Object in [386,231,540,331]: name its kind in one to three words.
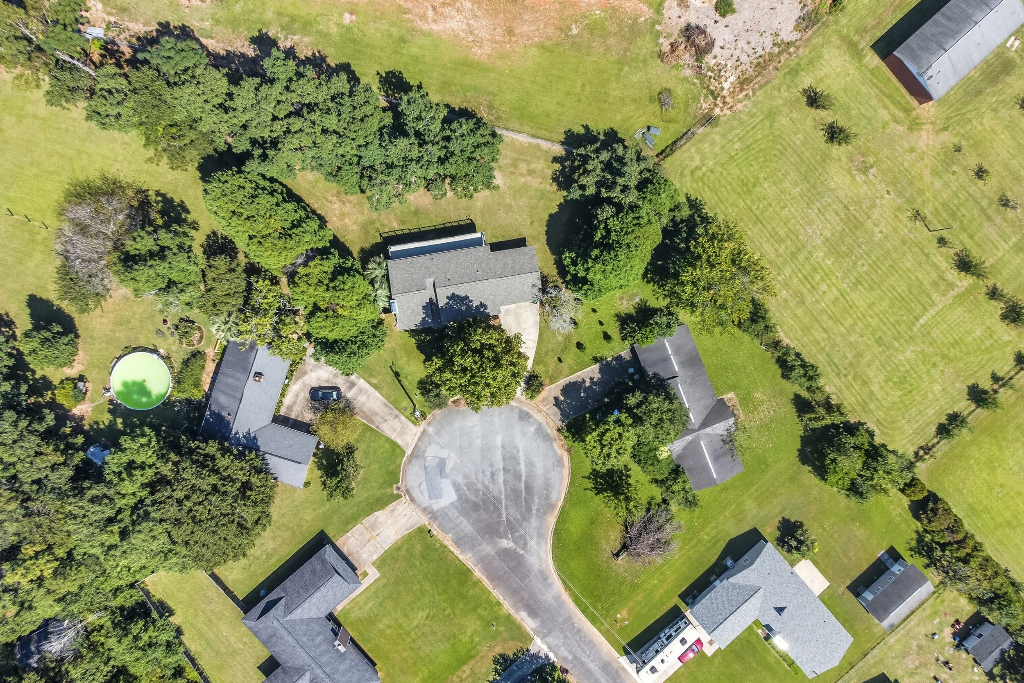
house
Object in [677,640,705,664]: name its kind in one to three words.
car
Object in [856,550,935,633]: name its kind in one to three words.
shed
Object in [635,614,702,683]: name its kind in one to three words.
camper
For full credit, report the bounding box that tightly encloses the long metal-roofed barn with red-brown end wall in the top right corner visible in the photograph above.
[887,0,1024,103]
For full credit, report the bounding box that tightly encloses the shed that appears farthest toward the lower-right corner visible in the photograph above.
[961,619,1013,672]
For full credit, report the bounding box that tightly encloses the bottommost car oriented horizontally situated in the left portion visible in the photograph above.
[309,387,341,402]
